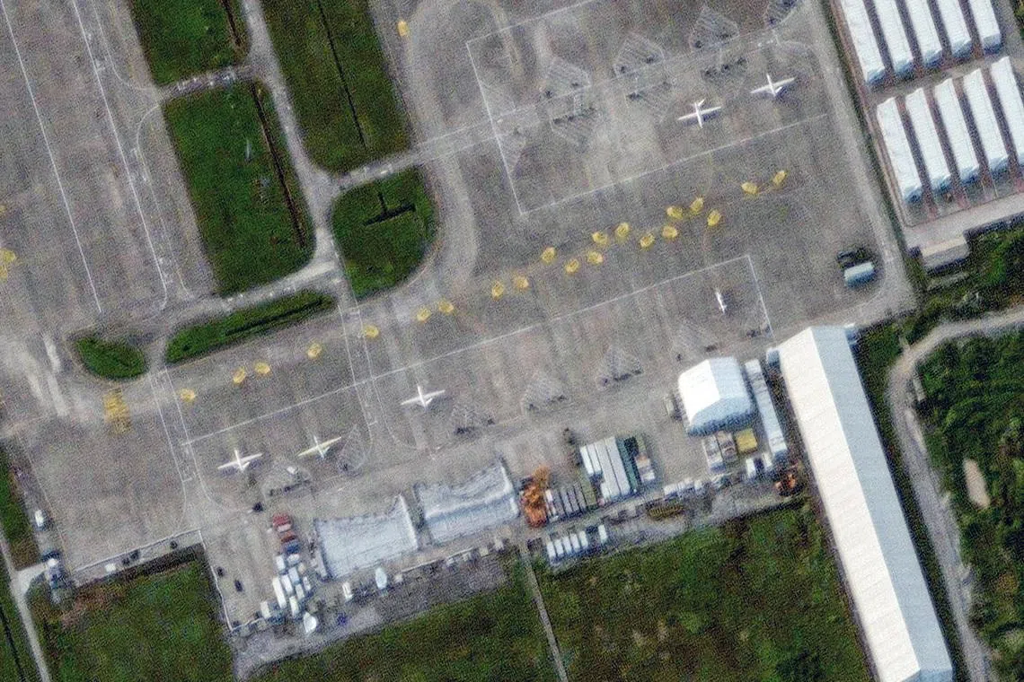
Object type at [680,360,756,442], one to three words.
hangar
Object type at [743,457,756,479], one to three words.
vehicle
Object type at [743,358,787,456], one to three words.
shed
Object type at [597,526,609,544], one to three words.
vehicle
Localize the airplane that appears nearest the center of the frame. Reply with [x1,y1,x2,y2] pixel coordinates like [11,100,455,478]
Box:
[401,385,443,407]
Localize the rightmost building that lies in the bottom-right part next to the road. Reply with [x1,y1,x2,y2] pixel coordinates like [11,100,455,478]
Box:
[778,325,954,682]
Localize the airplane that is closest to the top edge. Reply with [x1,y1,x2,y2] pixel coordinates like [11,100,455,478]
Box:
[751,74,792,96]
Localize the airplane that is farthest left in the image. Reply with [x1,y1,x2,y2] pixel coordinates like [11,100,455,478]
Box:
[218,449,261,473]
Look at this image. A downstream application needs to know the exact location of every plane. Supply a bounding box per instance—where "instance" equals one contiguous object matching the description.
[218,449,261,473]
[299,436,341,460]
[716,290,728,313]
[401,385,443,407]
[677,102,720,127]
[751,74,792,96]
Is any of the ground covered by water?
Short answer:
No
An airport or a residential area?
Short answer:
airport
